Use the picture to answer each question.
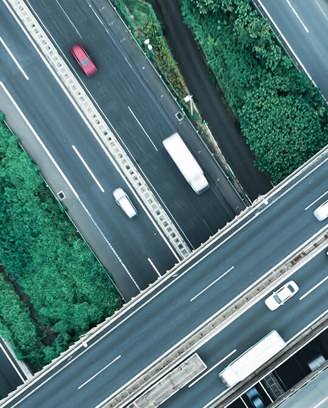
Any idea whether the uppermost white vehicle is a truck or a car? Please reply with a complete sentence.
I'd say the uppermost white vehicle is a truck.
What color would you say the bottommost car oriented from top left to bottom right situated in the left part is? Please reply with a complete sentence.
The color of the bottommost car oriented from top left to bottom right situated in the left part is white.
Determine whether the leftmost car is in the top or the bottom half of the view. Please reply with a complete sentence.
The leftmost car is in the top half of the image.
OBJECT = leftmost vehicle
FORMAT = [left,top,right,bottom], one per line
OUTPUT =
[71,42,96,77]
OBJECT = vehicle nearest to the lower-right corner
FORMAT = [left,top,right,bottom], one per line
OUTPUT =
[304,347,321,366]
